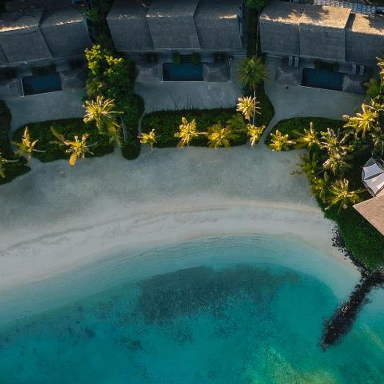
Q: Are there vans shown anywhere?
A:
No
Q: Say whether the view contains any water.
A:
Yes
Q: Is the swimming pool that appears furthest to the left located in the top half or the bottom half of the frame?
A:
top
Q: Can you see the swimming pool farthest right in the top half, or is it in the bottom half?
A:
top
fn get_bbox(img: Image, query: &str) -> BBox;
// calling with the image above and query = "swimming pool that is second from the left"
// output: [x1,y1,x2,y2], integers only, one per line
[162,62,203,81]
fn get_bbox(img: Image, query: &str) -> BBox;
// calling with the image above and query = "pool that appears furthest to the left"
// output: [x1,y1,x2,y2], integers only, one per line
[22,71,62,96]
